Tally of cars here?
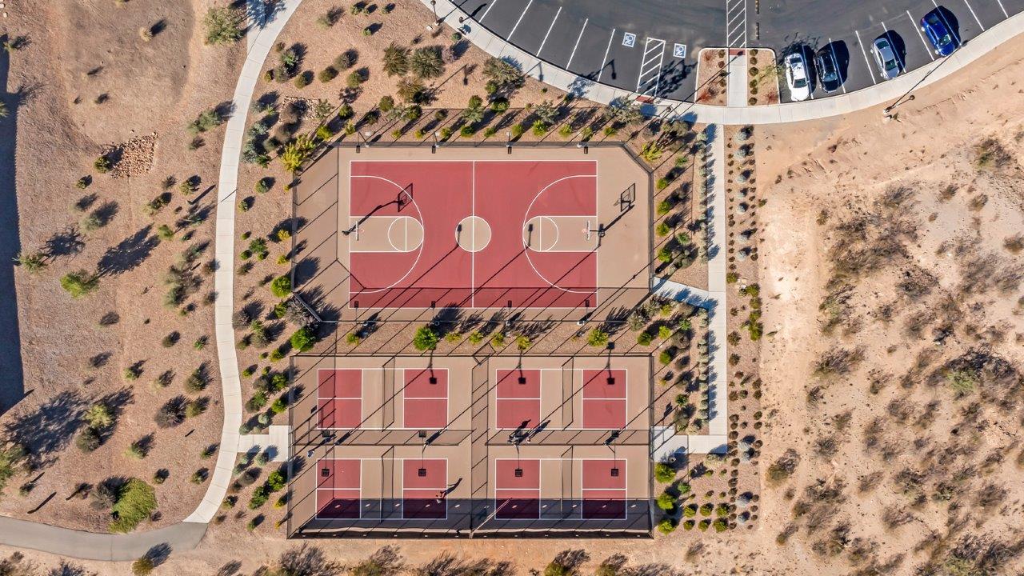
4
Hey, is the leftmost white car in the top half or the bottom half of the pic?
top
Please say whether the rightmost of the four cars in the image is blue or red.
blue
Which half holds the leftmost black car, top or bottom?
top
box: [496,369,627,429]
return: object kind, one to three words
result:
sports court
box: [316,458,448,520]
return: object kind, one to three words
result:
sports court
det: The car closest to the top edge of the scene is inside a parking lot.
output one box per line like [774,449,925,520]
[925,9,957,56]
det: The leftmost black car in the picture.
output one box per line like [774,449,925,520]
[817,48,843,94]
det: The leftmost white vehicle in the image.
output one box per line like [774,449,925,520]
[786,52,812,101]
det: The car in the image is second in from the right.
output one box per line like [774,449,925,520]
[876,34,903,80]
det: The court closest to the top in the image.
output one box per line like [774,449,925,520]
[298,148,647,321]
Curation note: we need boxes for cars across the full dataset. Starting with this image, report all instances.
[817,48,843,94]
[786,52,812,101]
[925,9,957,56]
[876,34,903,80]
